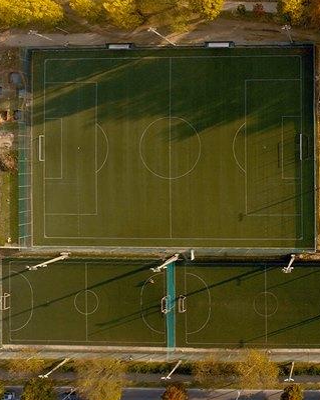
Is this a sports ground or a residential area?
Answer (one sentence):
The area seen from above is a sports ground.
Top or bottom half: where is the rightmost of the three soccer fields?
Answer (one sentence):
You can find the rightmost of the three soccer fields in the bottom half.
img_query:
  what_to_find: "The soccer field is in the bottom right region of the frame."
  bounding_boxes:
[175,259,320,350]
